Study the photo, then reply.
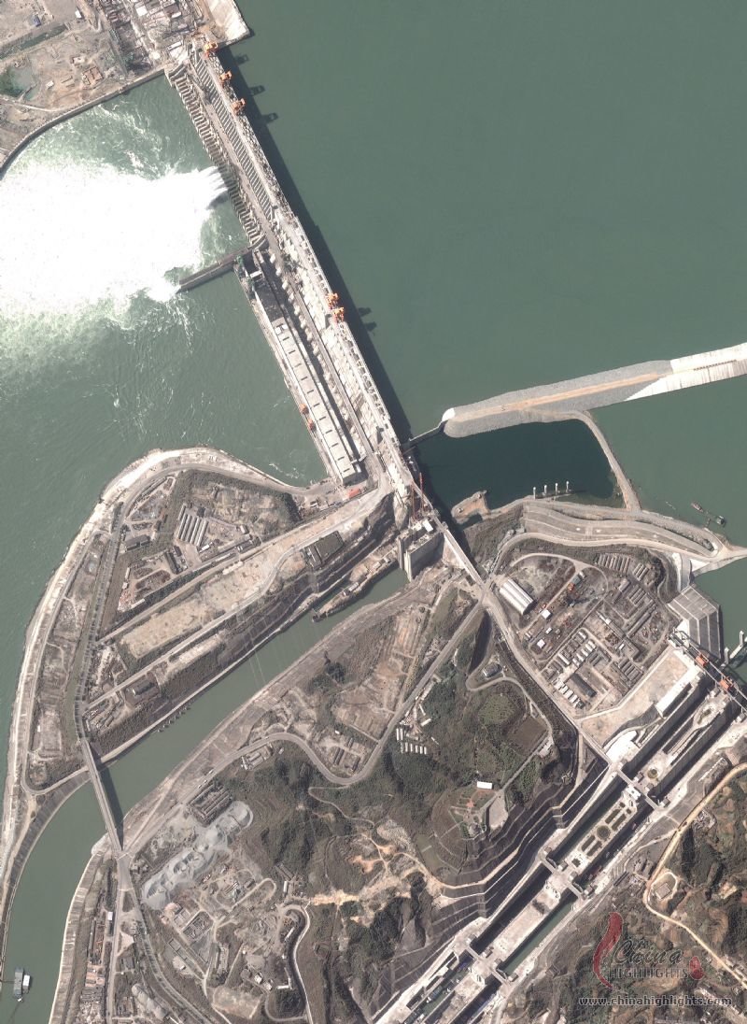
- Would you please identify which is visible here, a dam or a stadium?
dam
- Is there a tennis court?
No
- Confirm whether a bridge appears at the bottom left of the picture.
Yes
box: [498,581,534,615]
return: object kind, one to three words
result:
building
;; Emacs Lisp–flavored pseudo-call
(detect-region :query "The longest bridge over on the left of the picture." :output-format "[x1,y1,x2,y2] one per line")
[78,735,126,855]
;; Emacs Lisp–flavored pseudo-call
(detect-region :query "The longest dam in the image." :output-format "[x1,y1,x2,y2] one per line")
[180,40,487,601]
